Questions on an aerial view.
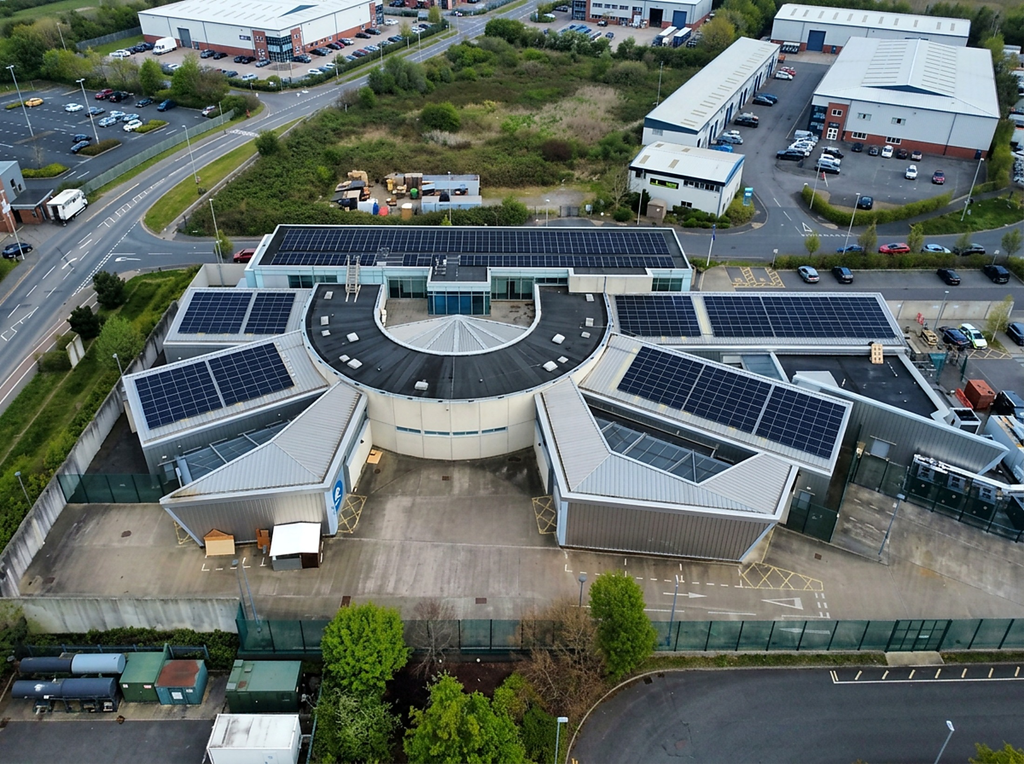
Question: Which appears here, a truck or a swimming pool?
truck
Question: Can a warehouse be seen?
Yes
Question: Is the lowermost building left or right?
left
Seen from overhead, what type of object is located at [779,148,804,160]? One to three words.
vehicle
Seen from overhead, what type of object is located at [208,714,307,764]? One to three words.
building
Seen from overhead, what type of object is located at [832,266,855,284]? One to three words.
car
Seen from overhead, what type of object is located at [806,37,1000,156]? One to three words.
warehouse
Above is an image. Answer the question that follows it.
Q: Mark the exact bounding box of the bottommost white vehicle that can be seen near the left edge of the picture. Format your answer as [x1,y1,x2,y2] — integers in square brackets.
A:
[41,190,89,223]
